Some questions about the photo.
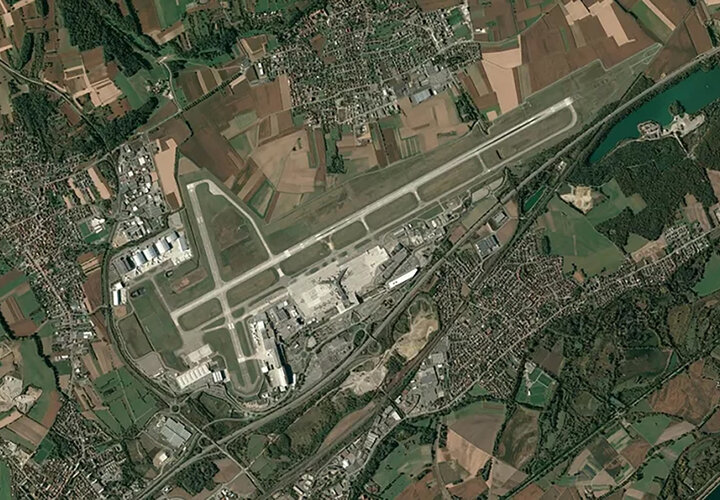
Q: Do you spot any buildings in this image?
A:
Yes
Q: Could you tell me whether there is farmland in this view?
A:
Yes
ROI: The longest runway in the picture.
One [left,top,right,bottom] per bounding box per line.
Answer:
[174,96,576,320]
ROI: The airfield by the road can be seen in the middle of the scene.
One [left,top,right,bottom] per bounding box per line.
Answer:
[111,44,662,404]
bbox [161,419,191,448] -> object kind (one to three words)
building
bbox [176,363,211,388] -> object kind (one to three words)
hangar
